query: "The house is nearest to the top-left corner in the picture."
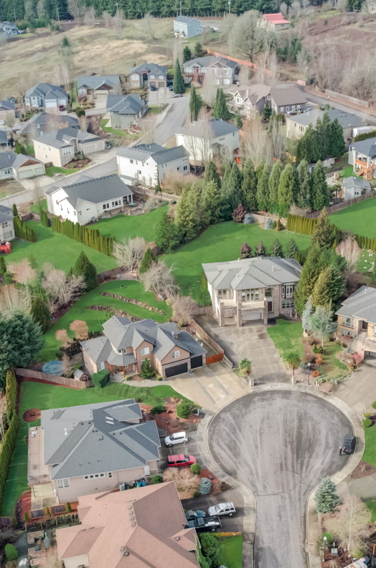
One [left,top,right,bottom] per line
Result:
[0,21,22,45]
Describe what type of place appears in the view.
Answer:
residential area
